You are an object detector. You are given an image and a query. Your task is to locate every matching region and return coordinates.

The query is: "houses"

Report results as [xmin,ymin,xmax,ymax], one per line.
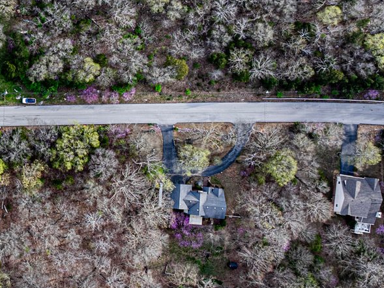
[335,176,383,234]
[169,184,228,226]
